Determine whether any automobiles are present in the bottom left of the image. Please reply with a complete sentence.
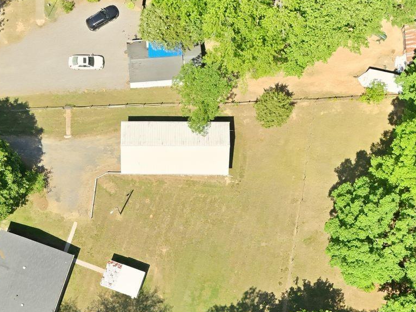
No, no automobile is visible in the bottom left of the image.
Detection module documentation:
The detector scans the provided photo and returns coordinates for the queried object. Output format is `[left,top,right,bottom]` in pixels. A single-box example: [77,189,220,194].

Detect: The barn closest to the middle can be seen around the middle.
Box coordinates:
[120,121,233,179]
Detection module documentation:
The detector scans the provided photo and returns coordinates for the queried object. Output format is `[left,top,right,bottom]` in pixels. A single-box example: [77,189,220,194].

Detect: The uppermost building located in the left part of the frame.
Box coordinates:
[128,41,200,87]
